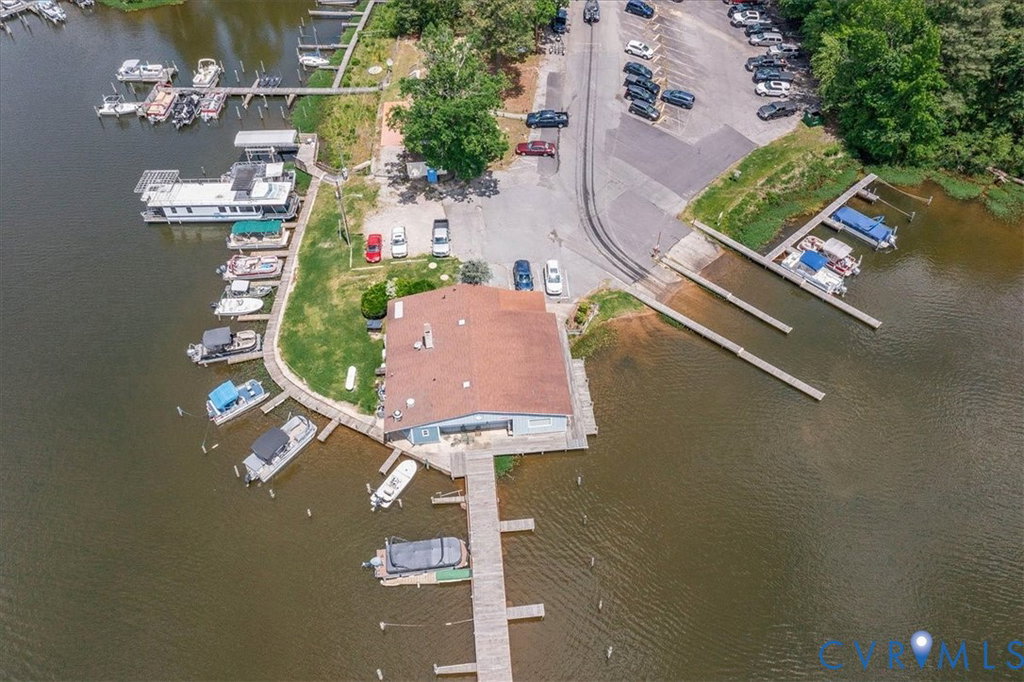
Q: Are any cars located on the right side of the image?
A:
Yes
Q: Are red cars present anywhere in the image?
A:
Yes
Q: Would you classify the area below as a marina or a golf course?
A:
marina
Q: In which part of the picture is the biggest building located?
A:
center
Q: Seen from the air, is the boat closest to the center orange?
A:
No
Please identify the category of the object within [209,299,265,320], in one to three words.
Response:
boat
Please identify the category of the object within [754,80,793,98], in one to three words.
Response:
car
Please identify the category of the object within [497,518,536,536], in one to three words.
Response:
pier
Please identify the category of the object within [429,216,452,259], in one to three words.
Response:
truck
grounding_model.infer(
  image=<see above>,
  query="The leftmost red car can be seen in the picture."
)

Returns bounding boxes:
[363,232,384,265]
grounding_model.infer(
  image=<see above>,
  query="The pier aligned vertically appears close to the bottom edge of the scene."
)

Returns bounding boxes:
[466,453,509,682]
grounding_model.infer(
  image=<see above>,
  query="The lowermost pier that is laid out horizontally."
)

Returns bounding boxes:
[434,660,476,679]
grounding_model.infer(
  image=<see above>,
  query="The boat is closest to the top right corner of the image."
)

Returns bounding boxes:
[833,207,900,253]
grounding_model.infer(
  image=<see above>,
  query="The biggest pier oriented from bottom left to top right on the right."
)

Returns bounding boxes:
[764,176,876,264]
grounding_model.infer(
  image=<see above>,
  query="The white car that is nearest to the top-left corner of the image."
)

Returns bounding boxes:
[388,224,408,260]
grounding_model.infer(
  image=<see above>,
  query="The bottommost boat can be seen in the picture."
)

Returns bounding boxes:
[368,536,469,584]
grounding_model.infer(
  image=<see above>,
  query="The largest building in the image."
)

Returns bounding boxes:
[384,281,573,448]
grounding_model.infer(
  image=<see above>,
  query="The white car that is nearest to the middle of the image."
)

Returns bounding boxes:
[543,260,564,296]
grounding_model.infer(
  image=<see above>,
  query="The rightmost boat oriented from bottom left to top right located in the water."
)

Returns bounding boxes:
[368,460,415,516]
